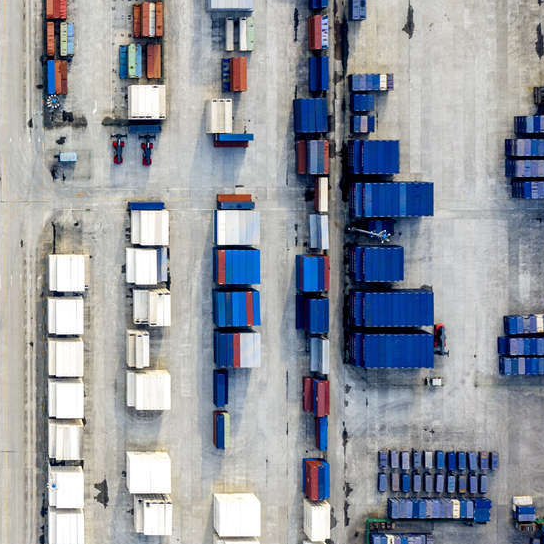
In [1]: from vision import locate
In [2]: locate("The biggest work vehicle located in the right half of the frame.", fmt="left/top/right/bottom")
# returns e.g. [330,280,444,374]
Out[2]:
[434,322,452,356]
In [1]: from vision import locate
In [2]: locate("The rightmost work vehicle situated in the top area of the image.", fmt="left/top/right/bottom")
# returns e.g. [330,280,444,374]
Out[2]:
[139,133,156,166]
